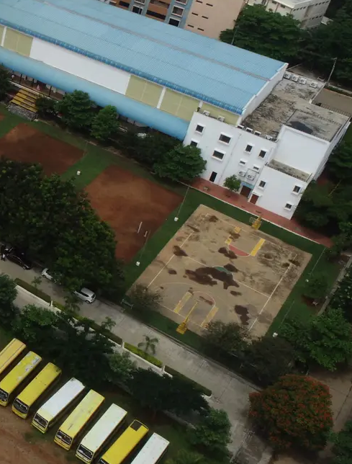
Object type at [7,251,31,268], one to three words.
car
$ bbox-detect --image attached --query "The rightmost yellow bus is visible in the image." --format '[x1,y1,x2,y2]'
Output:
[101,420,148,464]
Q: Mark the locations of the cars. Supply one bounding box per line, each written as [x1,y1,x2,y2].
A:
[74,289,98,305]
[7,251,31,268]
[43,269,62,284]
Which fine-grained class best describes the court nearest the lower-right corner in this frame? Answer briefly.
basketball court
